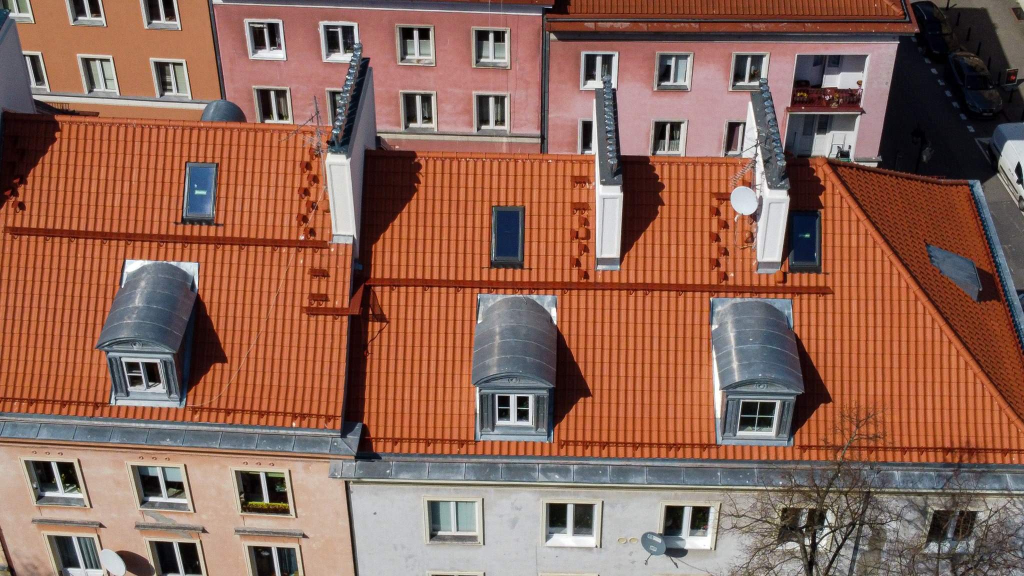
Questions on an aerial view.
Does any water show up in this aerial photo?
No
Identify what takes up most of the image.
buildings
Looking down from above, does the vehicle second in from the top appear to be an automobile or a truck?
automobile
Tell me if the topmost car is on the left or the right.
right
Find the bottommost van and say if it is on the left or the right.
right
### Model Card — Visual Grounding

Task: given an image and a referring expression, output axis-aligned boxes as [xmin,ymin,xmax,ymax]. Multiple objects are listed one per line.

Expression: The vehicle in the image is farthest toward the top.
[914,7,962,62]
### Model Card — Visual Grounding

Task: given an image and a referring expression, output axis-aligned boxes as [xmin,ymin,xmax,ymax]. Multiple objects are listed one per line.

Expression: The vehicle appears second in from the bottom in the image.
[945,52,1007,119]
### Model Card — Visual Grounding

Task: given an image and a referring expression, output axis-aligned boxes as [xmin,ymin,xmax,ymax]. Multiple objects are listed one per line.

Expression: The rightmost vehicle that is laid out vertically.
[990,120,1024,203]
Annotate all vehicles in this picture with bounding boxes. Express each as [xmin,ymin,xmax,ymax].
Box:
[914,7,962,62]
[945,52,1007,119]
[990,120,1024,203]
